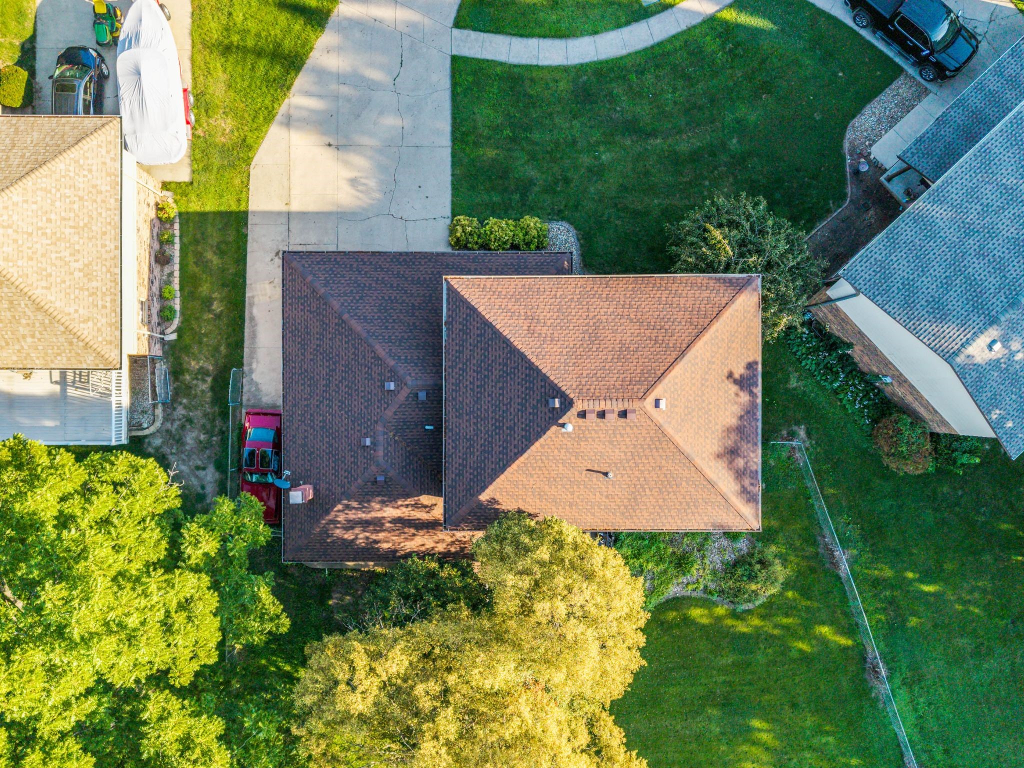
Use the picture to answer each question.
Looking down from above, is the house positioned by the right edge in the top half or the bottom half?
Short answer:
top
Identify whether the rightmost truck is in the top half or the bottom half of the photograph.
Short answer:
top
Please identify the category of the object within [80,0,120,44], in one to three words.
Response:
work vehicle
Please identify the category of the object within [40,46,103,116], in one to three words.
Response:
car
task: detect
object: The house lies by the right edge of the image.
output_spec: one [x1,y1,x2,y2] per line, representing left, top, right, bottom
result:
[806,38,1024,460]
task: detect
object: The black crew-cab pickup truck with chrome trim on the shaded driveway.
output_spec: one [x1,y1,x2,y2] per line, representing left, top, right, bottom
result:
[840,0,976,87]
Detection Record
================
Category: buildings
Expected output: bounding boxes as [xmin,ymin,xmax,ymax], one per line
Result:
[0,116,167,368]
[282,250,761,562]
[806,38,1024,460]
